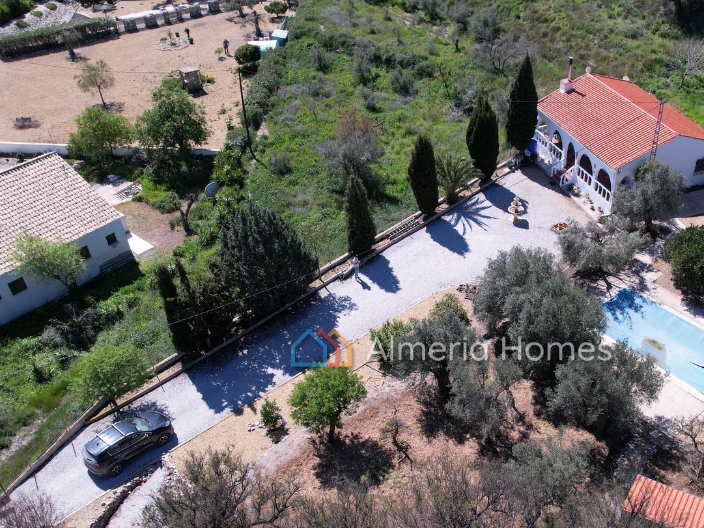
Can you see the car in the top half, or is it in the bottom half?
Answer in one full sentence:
Seen from above, the car lies in the bottom half of the view.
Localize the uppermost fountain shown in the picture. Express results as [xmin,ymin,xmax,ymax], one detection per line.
[507,198,525,223]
